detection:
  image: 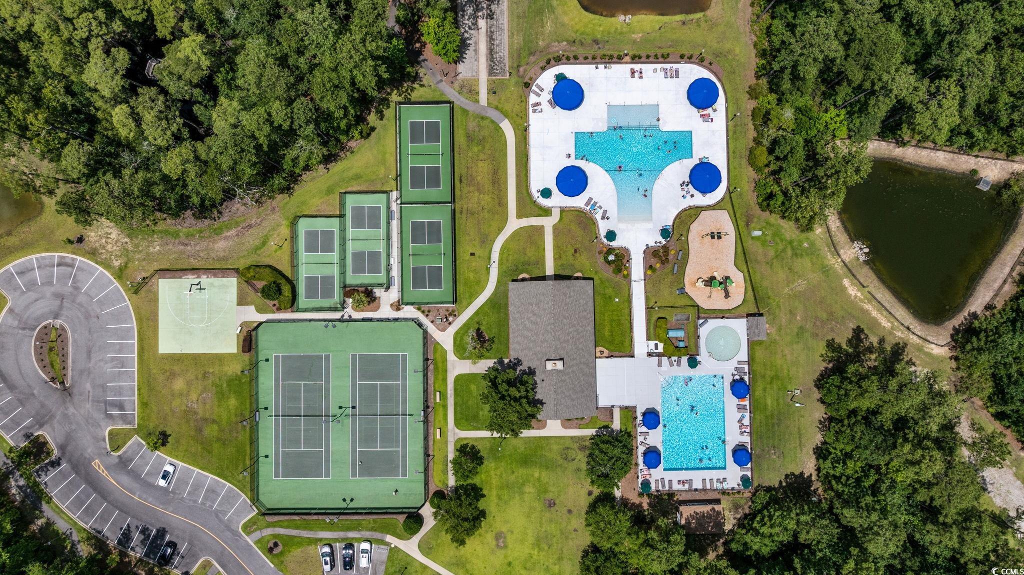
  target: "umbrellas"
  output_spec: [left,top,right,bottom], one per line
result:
[733,449,751,466]
[643,450,661,468]
[556,73,566,82]
[687,77,718,110]
[556,165,588,197]
[642,411,660,429]
[689,161,721,193]
[605,230,616,241]
[641,482,652,493]
[552,78,584,110]
[687,358,698,368]
[660,228,671,239]
[541,188,551,198]
[741,479,752,489]
[732,381,749,398]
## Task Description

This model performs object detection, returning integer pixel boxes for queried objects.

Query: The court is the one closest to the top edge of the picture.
[407,120,442,190]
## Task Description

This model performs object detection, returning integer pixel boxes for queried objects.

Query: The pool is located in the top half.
[574,102,694,223]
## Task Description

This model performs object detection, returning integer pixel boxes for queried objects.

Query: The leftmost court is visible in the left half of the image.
[158,278,237,353]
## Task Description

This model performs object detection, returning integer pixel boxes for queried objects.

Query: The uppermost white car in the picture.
[158,462,177,487]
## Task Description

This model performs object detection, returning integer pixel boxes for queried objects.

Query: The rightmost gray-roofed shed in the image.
[744,316,767,341]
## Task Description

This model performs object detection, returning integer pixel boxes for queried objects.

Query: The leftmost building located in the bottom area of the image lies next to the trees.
[509,280,597,420]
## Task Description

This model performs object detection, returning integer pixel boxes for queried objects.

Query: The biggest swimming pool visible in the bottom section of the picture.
[660,374,729,472]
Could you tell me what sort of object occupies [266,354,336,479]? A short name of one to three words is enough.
tennis court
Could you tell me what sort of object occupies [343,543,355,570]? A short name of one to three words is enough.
vehicle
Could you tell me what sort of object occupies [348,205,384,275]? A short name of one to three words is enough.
sports court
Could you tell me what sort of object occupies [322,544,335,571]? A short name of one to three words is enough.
vehicle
